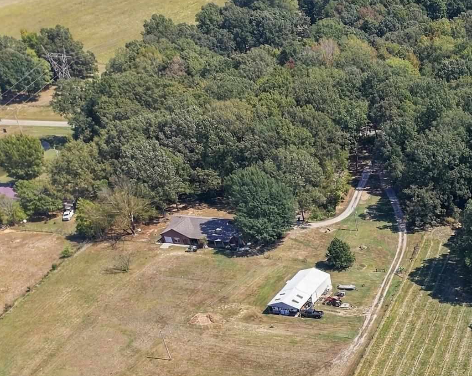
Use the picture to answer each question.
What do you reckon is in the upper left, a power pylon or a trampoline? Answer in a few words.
power pylon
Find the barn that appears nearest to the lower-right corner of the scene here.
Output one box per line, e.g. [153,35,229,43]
[267,269,331,318]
